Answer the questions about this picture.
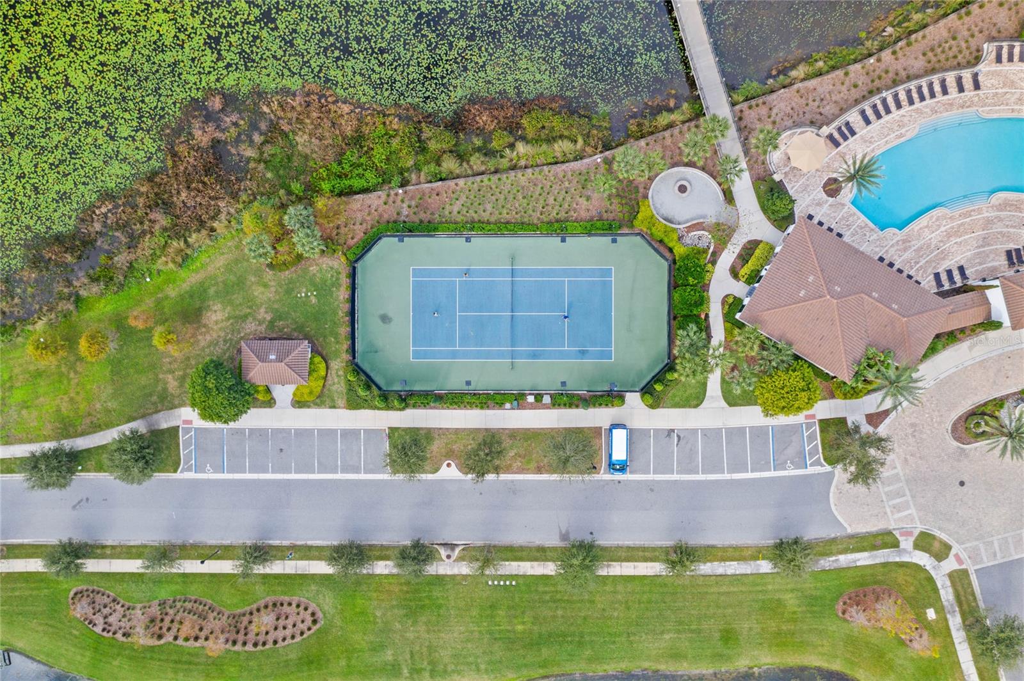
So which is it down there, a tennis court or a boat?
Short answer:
tennis court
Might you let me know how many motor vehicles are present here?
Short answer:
1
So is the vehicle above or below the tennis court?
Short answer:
below it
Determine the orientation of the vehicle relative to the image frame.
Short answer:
vertically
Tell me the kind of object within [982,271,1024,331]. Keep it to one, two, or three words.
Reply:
building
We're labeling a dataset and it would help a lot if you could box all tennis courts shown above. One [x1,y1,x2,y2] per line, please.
[356,235,667,390]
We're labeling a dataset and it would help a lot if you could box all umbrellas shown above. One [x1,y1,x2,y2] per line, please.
[793,129,833,169]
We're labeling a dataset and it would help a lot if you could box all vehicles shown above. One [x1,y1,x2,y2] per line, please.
[607,424,629,475]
